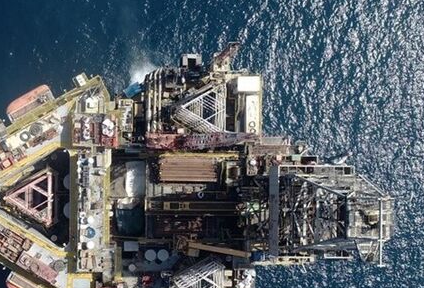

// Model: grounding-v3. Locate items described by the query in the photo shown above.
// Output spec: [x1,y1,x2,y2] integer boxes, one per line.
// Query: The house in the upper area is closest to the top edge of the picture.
[177,55,201,74]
